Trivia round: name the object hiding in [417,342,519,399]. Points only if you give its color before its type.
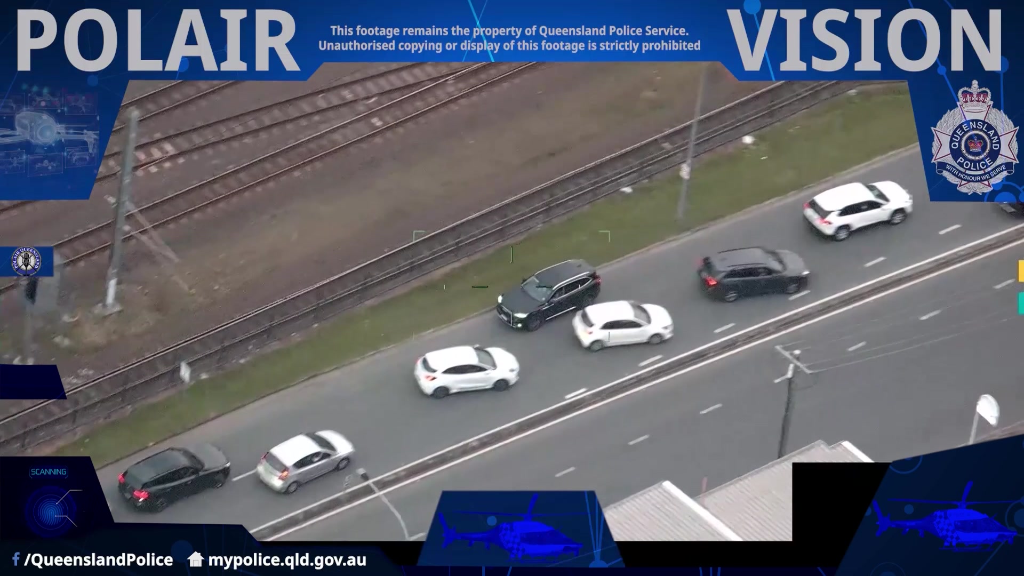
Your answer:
white car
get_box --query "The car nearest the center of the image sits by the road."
[495,254,603,332]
